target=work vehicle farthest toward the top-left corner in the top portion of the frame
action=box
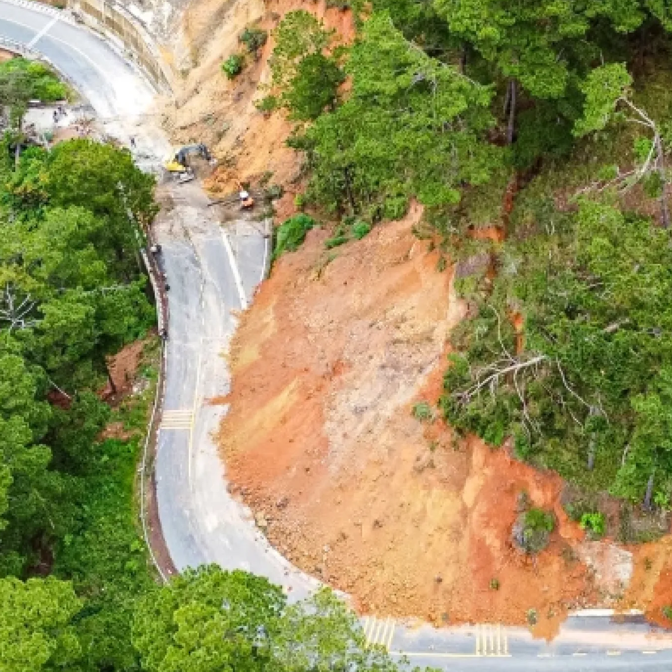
[163,149,217,182]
